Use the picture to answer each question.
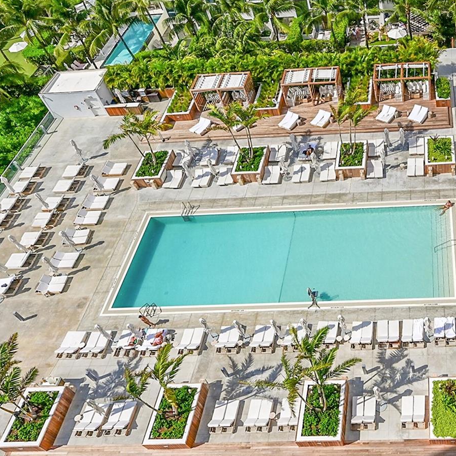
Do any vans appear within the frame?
No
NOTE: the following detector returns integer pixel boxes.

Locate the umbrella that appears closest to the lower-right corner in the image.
[373,384,388,411]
